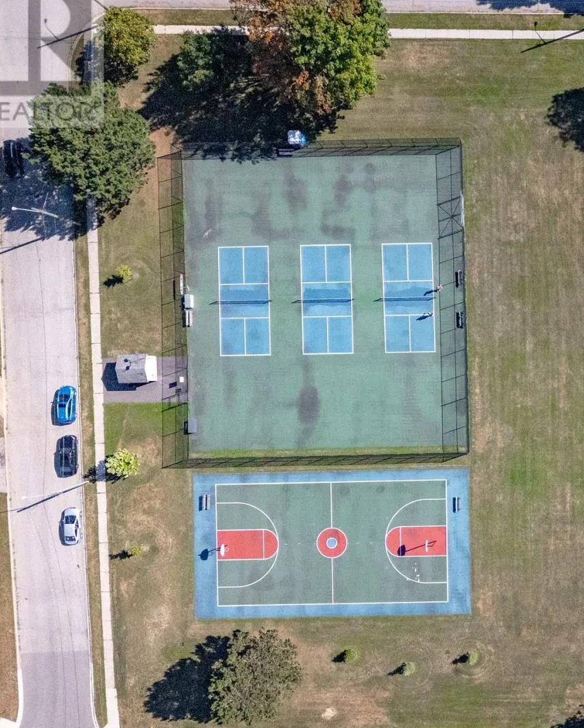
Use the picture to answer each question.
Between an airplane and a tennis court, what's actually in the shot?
tennis court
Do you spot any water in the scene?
No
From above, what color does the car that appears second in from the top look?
blue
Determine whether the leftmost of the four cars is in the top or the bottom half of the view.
top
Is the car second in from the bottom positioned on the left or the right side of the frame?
left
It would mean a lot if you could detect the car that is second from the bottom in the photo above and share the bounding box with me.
[56,437,79,476]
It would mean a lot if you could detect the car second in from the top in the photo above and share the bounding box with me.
[55,386,77,425]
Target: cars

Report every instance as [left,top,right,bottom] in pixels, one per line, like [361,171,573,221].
[61,507,82,546]
[0,136,22,177]
[56,437,79,476]
[55,386,77,425]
